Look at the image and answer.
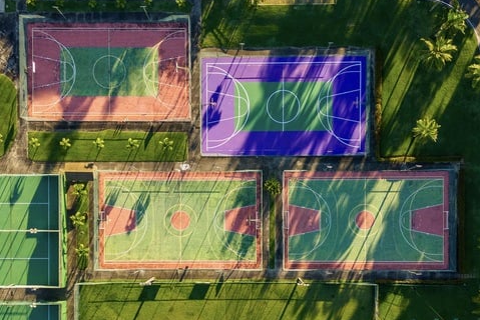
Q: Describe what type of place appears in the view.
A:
sports ground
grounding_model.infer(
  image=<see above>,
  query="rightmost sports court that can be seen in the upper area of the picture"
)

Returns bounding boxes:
[200,52,374,157]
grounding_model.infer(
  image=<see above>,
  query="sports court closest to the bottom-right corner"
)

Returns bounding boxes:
[283,170,457,272]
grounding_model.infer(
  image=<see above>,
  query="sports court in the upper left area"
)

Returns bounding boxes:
[19,15,193,122]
